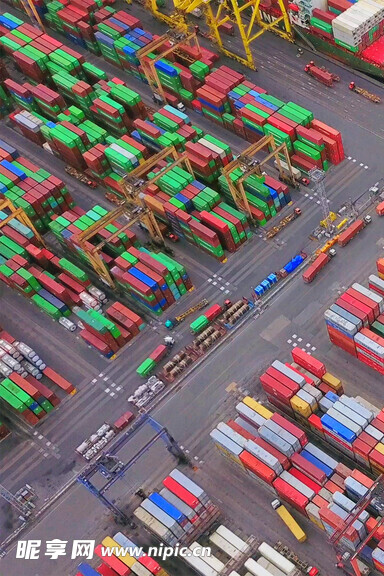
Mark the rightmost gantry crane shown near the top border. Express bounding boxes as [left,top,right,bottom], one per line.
[203,0,297,71]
